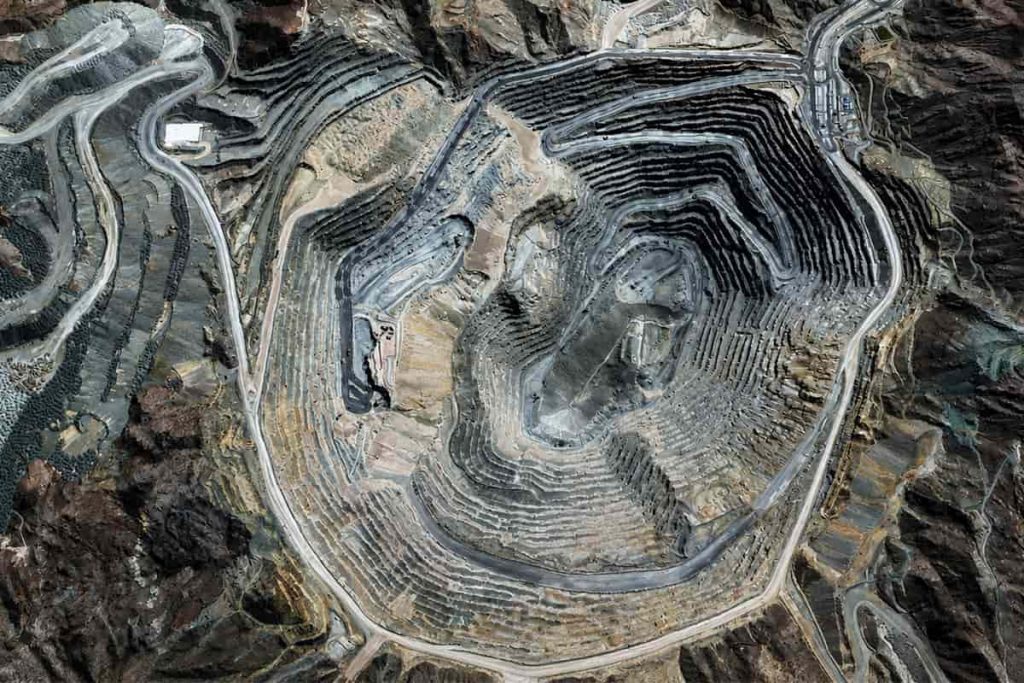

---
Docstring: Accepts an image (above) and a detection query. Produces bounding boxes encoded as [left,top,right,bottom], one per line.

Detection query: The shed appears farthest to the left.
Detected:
[165,123,200,150]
